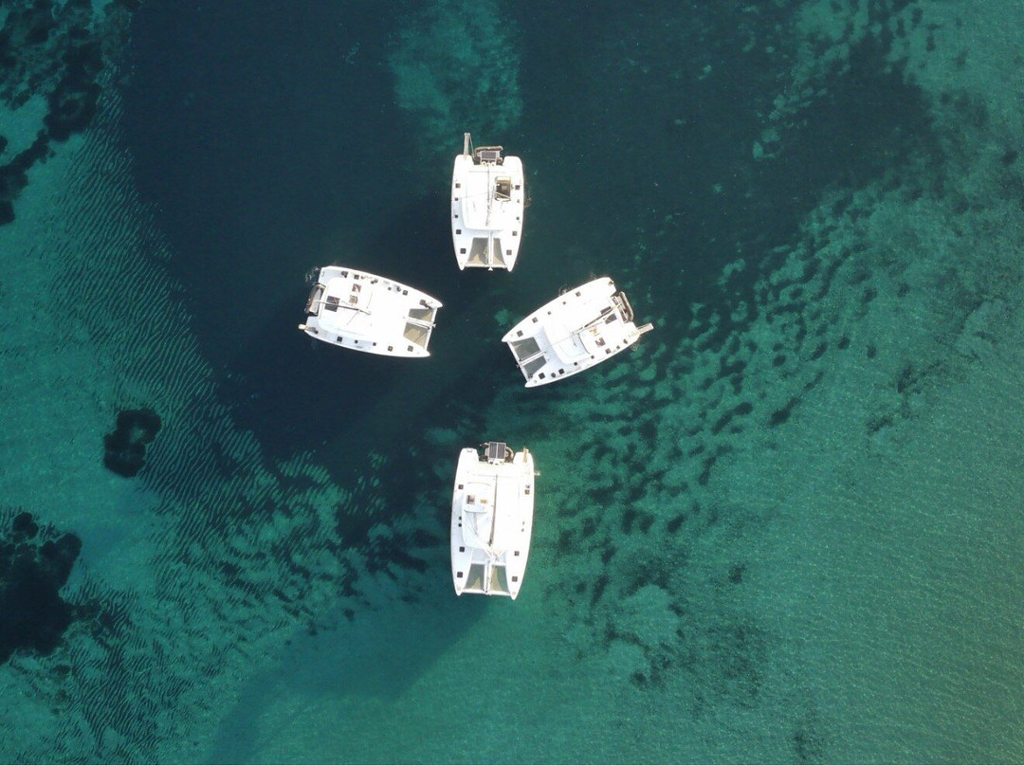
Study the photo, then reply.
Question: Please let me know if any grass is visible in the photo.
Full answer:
Yes, there's grass in this view.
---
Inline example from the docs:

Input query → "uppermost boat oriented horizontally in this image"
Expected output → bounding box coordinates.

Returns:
[474,149,506,164]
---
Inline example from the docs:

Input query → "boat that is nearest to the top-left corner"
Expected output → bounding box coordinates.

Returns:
[306,283,326,315]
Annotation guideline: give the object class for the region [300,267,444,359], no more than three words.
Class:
boat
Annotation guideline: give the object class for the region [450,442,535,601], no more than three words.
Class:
boat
